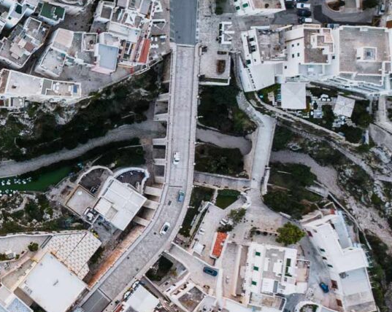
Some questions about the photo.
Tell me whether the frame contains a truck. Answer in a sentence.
No, this view has no truck in it.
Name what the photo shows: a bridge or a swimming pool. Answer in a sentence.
Visible in the photo is a bridge.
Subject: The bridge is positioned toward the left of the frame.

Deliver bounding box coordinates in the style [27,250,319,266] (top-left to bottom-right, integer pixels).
[93,45,203,301]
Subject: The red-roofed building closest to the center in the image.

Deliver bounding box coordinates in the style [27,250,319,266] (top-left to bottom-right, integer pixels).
[206,231,229,257]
